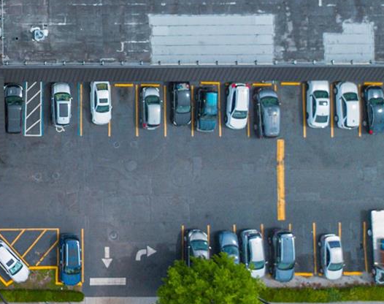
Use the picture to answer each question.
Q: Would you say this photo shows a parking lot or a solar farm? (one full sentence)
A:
This image shows a parking lot.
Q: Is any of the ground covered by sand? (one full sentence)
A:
No, the scene doesn't show any sand.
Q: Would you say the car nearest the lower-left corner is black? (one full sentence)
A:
No, the car nearest the lower-left corner is actually white.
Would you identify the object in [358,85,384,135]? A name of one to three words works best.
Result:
car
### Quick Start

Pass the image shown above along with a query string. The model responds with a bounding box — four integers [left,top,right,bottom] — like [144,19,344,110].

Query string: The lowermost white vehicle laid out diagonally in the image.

[0,239,32,285]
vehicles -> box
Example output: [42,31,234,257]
[193,87,219,133]
[302,83,330,128]
[358,85,384,135]
[314,232,343,279]
[88,83,114,126]
[267,230,296,281]
[366,205,384,281]
[237,229,265,278]
[57,233,83,283]
[182,226,210,275]
[0,239,32,285]
[252,87,281,139]
[330,83,360,129]
[3,83,26,135]
[48,83,74,131]
[138,86,163,130]
[212,227,239,269]
[223,83,251,129]
[168,83,194,126]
